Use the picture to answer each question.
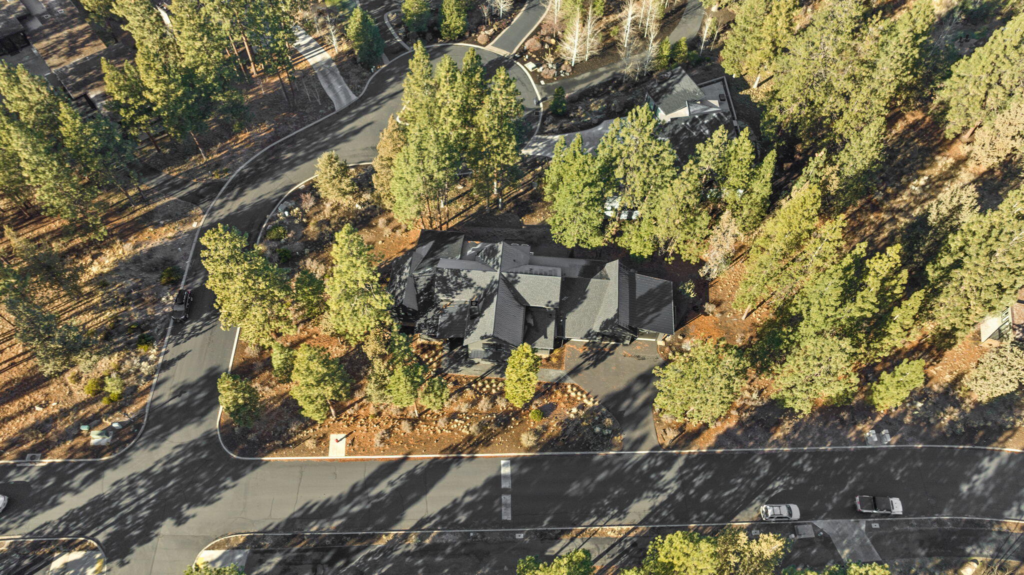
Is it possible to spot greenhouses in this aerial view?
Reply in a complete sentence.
No, the picture doesn't show any greenhouse.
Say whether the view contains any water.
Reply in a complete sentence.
No, water can't be seen anywhere here.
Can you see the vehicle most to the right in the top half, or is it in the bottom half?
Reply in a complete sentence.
The vehicle most to the right sits in the bottom half of the picture.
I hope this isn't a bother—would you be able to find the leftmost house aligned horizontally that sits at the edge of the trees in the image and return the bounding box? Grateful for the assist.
[384,234,679,376]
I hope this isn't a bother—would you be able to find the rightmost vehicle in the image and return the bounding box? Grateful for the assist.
[856,497,907,517]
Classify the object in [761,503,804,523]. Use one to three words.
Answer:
car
